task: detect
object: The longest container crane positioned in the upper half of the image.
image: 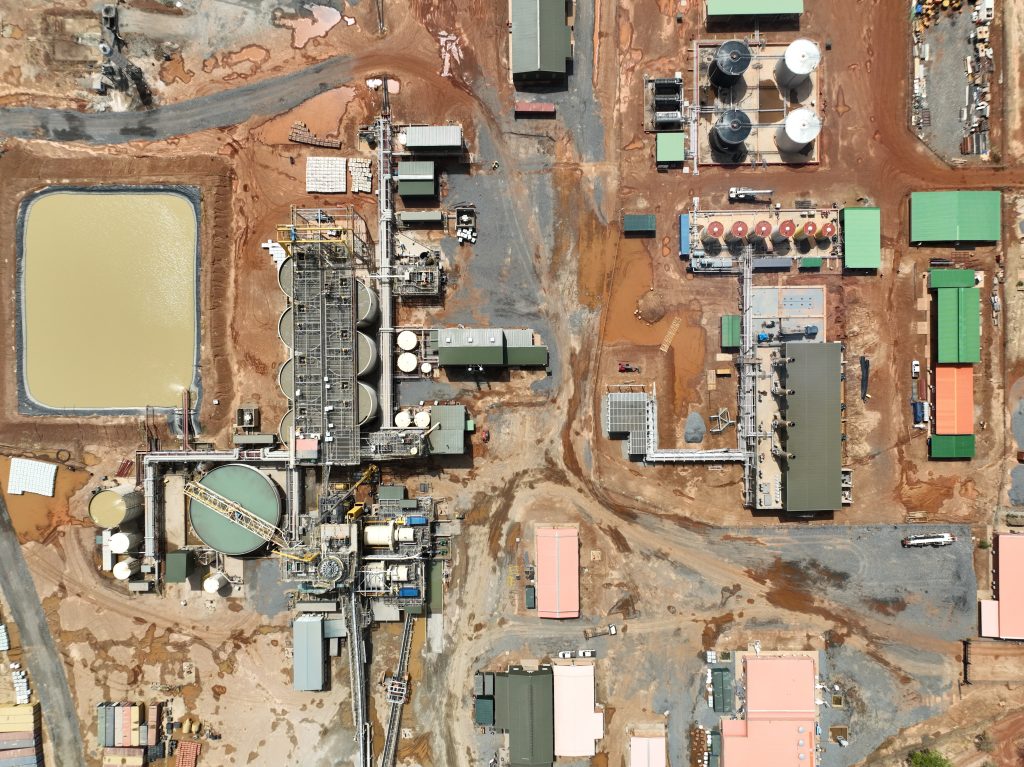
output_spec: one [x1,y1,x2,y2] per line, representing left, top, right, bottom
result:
[276,208,367,256]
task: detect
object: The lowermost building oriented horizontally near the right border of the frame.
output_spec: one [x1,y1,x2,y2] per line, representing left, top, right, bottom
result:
[924,435,975,458]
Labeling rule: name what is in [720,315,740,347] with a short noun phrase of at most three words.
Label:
shed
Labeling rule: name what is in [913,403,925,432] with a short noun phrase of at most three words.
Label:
vehicle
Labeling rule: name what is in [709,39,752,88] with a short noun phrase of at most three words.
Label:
storage tank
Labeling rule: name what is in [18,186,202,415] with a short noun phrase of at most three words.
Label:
pond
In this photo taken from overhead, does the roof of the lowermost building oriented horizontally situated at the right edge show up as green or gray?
green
